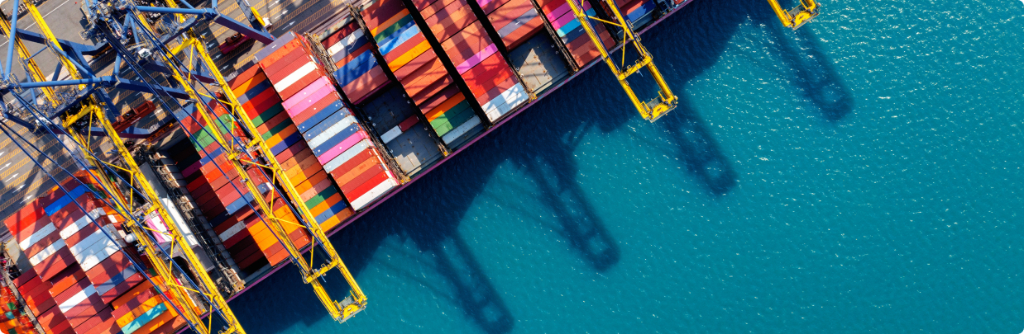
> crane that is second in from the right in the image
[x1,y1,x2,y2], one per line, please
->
[562,0,683,125]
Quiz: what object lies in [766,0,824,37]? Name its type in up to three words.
container crane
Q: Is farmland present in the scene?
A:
No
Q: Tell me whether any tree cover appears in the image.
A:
No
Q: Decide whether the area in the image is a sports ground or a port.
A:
port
